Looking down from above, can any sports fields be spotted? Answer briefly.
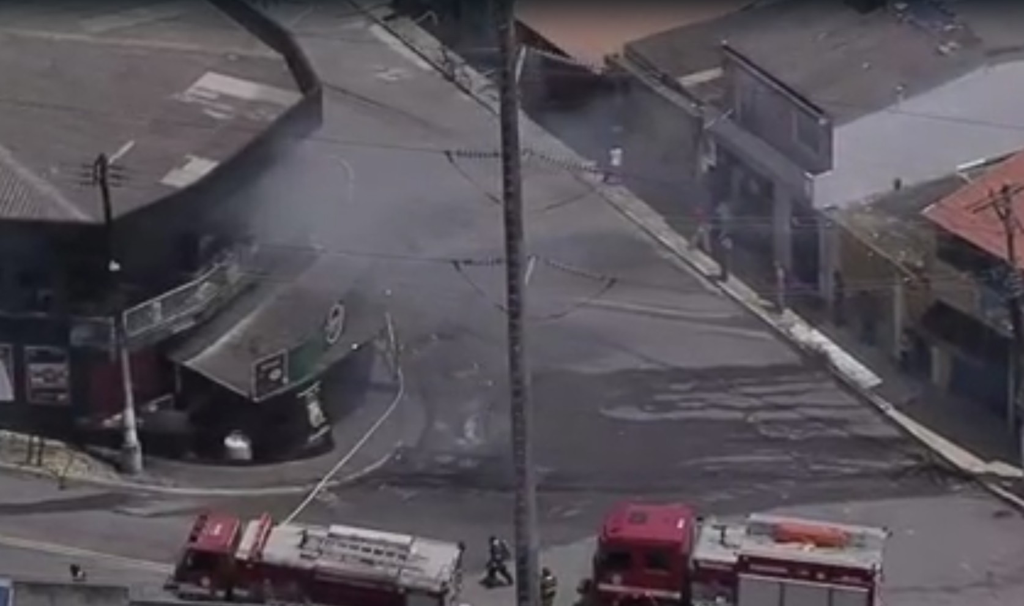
No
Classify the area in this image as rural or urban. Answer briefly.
urban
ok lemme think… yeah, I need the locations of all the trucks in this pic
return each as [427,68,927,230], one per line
[158,511,469,606]
[587,499,893,606]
